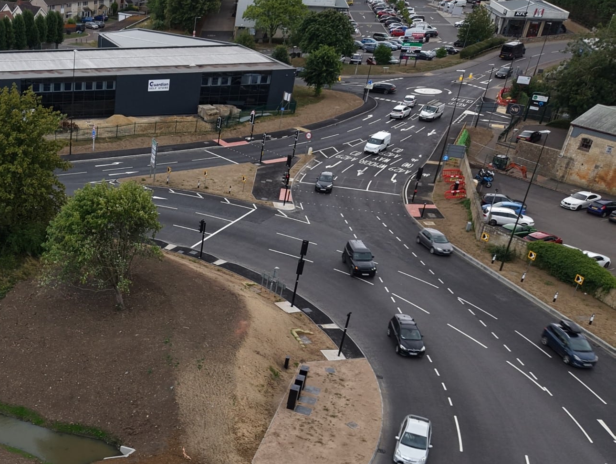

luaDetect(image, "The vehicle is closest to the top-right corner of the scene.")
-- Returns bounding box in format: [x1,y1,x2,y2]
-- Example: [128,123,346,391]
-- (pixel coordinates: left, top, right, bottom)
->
[504,42,520,56]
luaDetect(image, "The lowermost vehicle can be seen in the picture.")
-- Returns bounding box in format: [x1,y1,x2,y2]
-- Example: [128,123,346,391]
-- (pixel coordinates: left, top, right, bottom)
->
[392,417,433,464]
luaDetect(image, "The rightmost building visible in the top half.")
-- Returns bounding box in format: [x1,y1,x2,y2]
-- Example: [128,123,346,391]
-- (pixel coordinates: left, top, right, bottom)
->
[556,99,616,195]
